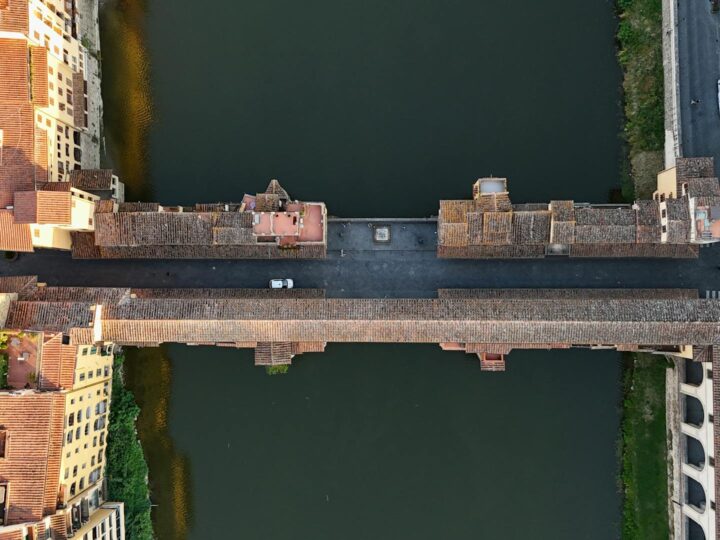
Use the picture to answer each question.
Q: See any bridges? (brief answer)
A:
Yes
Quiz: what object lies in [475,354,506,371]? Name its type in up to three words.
house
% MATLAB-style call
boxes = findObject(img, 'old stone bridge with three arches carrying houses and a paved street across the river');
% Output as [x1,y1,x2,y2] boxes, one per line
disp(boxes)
[80,218,674,343]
